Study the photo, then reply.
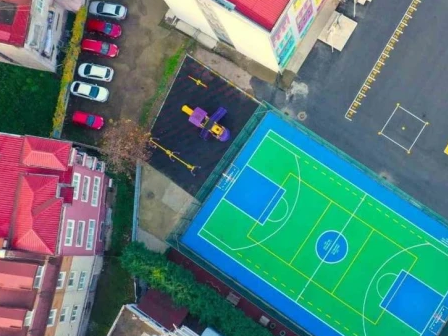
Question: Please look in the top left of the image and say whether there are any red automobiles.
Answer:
Yes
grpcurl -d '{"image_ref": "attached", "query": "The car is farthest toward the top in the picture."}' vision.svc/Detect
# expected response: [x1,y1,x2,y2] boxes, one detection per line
[90,0,129,22]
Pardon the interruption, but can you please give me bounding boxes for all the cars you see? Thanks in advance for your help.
[87,20,124,41]
[71,80,111,103]
[81,38,121,59]
[77,63,116,83]
[71,110,107,132]
[90,0,129,22]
